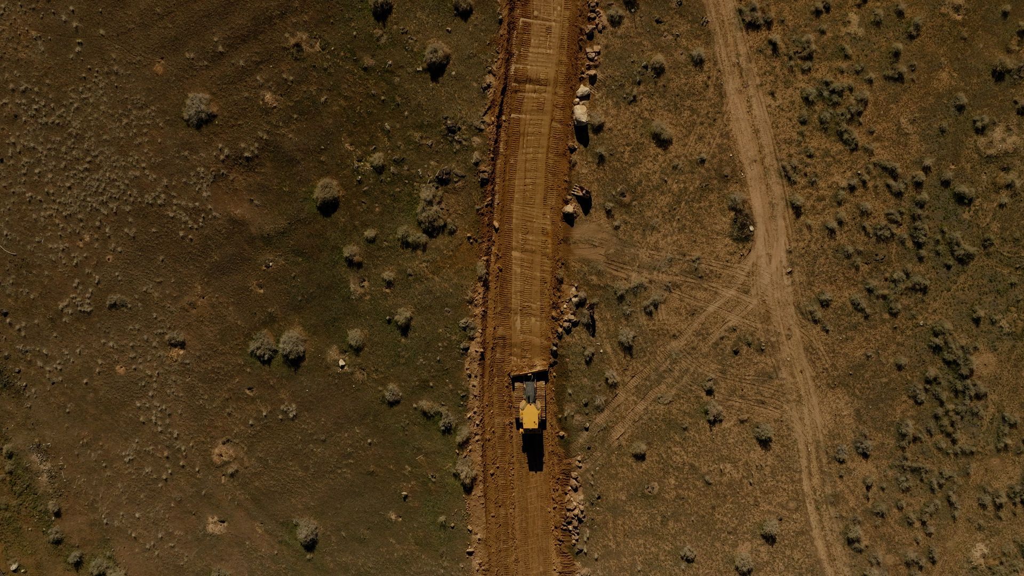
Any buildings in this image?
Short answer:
No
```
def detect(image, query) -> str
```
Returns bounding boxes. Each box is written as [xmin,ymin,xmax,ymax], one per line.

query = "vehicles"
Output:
[510,365,548,433]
